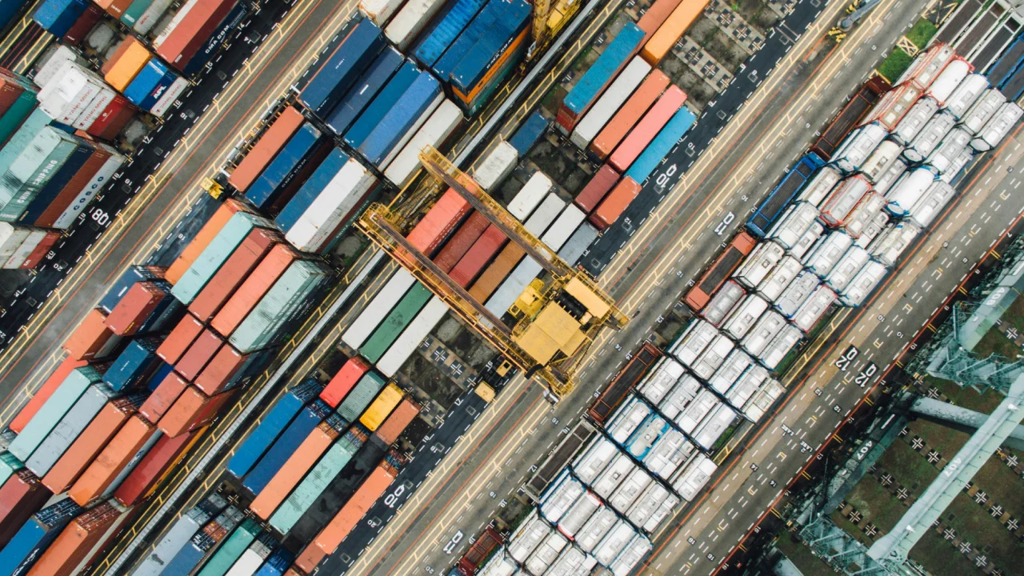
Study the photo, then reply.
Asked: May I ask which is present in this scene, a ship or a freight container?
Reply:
freight container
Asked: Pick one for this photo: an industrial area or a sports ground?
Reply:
industrial area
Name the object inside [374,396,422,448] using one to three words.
shipping container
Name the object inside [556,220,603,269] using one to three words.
shipping container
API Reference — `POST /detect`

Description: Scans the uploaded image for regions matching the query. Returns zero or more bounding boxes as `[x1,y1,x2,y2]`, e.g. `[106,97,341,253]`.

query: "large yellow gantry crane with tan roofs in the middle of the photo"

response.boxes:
[352,137,625,400]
